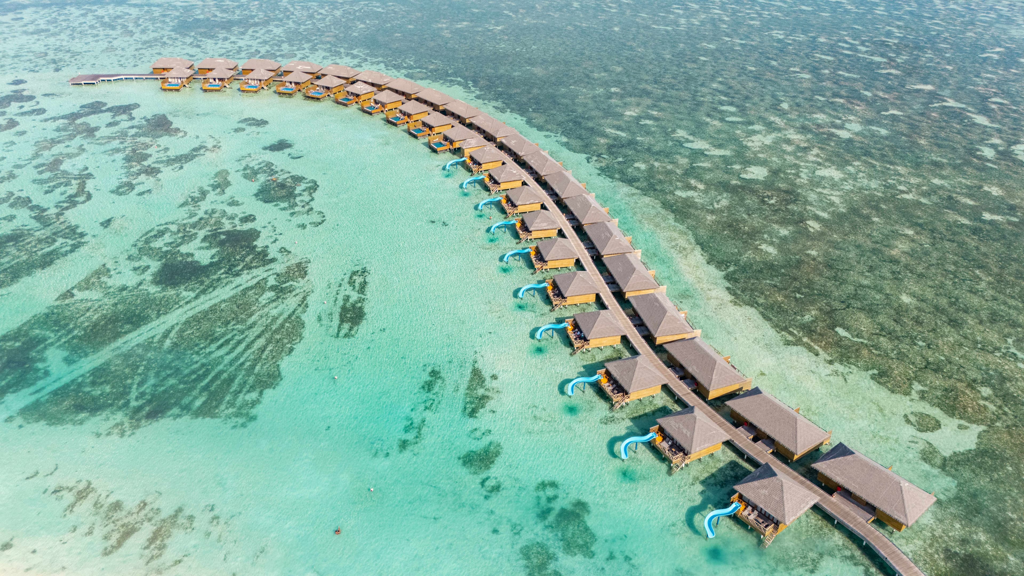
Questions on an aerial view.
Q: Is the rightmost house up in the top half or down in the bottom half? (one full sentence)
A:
The rightmost house is in the bottom half of the image.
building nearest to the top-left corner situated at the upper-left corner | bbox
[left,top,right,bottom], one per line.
[151,58,195,74]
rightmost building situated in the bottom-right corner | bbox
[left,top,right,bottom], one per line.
[812,442,936,539]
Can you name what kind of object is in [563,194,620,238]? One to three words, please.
house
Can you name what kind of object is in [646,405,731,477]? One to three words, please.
house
